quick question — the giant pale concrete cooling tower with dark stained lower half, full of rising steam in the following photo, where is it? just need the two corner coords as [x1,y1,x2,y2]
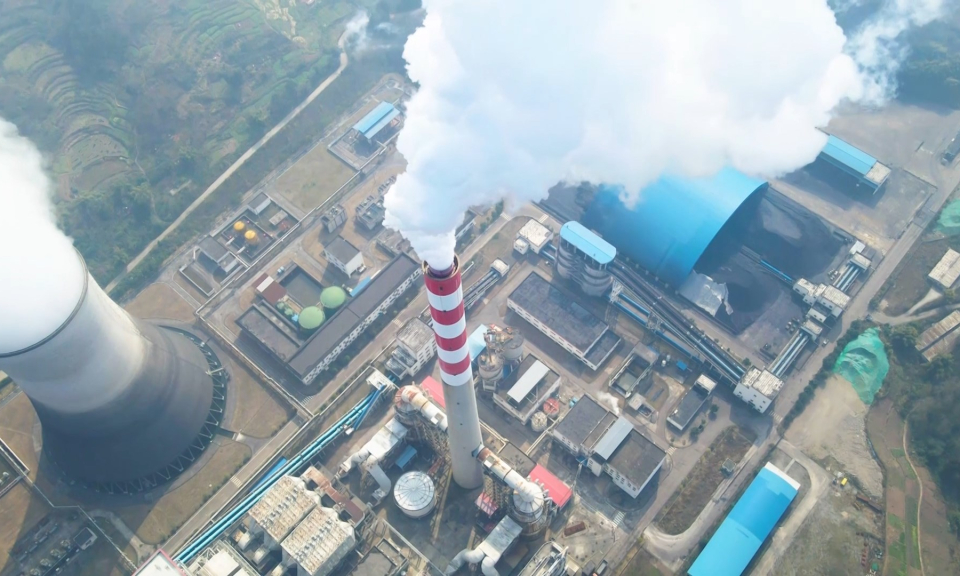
[0,231,238,508]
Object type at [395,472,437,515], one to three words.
storage tank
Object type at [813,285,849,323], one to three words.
house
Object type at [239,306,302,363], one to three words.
building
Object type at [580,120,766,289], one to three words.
shed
